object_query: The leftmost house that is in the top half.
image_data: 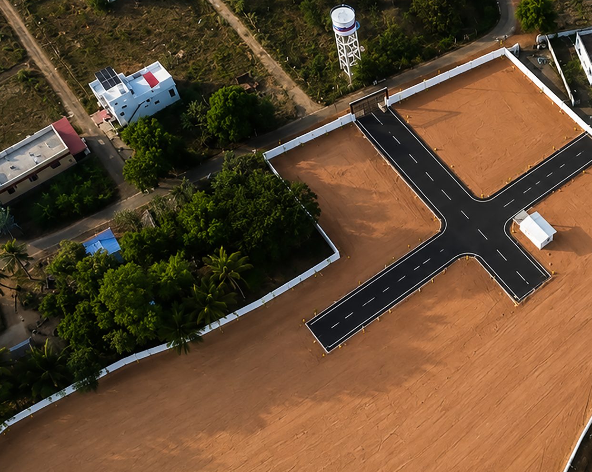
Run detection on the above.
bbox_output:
[0,119,93,201]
